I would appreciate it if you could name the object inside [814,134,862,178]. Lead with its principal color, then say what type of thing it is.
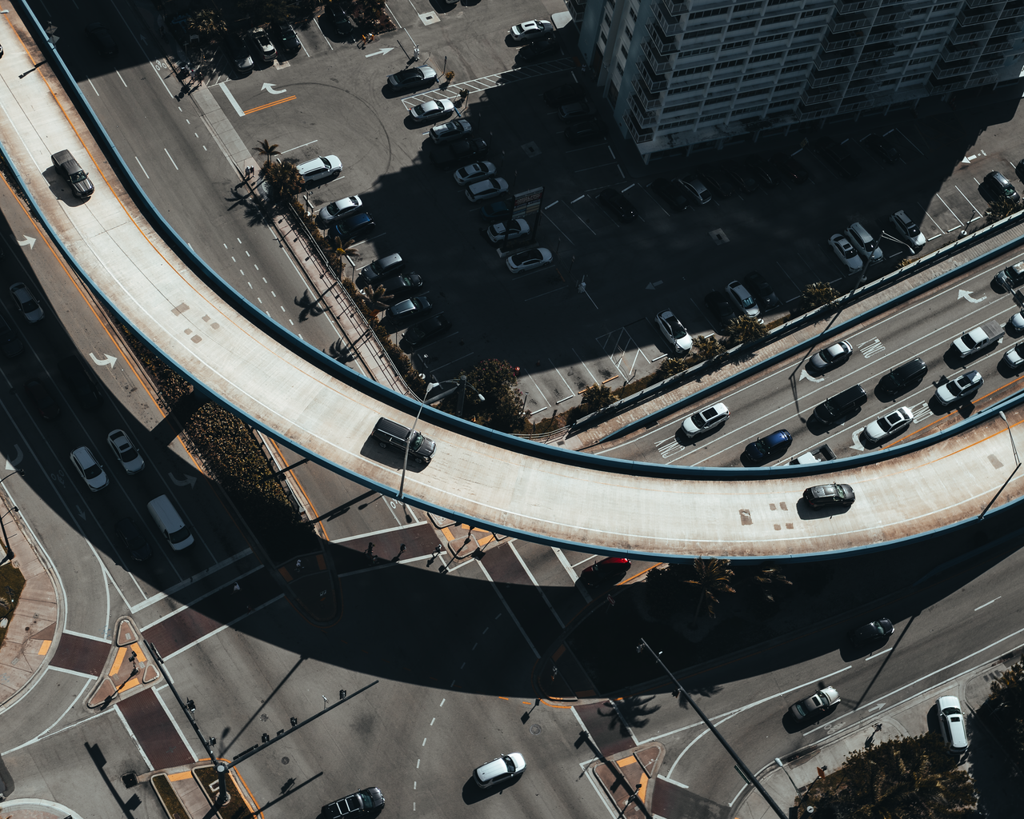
black truck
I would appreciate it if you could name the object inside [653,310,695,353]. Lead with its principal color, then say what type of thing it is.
black car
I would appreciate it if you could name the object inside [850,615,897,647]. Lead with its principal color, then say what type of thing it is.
black car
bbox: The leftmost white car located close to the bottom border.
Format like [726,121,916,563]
[471,751,527,789]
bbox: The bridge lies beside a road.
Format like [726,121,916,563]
[0,0,1024,568]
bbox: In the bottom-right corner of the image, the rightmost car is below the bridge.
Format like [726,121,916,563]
[937,698,971,752]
